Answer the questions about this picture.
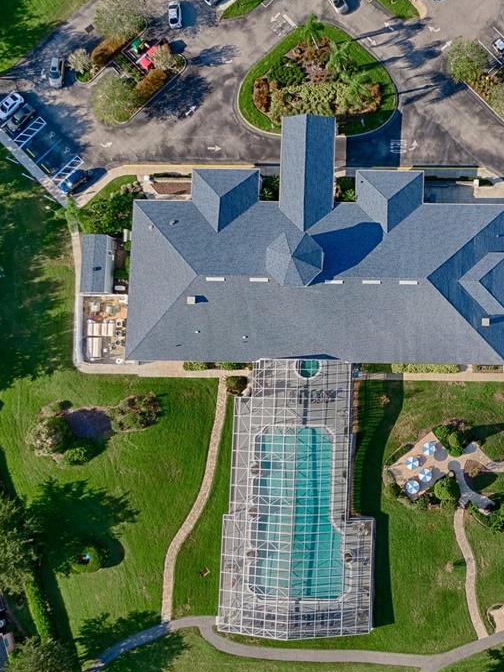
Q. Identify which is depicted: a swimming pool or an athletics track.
swimming pool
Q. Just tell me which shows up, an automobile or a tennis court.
automobile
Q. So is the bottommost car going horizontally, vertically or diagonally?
diagonally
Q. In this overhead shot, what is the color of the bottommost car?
blue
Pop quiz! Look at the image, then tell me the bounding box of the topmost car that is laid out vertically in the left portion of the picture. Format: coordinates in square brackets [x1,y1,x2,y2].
[167,0,182,30]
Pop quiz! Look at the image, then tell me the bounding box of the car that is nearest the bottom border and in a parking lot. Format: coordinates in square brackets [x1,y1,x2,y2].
[59,168,90,194]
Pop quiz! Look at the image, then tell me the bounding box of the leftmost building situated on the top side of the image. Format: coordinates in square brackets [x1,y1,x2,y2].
[81,234,113,293]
